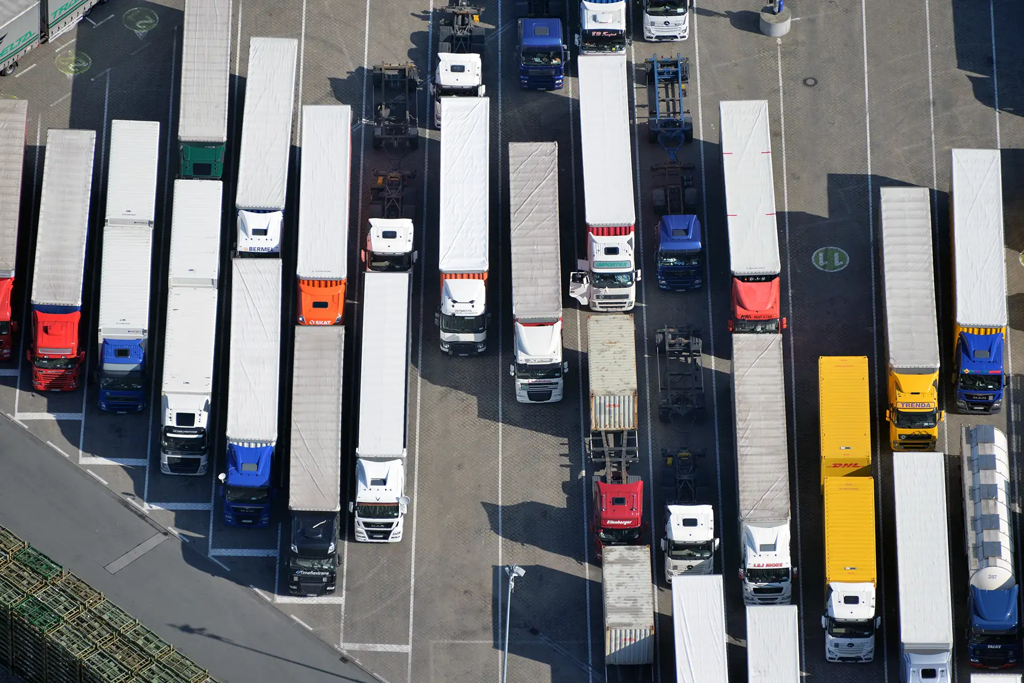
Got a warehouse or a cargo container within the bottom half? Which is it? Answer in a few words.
cargo container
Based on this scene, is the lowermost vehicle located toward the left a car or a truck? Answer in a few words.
truck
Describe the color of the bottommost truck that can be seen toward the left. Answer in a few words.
black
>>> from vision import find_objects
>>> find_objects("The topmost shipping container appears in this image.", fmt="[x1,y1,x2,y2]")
[586,315,638,433]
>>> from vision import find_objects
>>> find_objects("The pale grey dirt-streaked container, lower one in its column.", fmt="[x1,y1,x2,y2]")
[601,546,655,666]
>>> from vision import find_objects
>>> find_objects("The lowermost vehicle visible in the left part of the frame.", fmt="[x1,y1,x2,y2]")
[282,516,343,595]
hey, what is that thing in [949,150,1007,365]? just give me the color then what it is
white trailer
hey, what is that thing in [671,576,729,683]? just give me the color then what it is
white trailer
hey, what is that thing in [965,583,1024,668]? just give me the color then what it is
blue truck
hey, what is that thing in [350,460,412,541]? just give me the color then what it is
white truck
